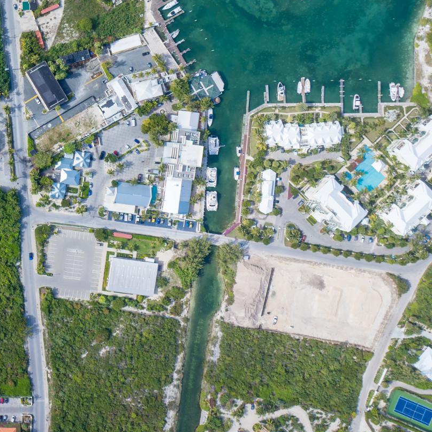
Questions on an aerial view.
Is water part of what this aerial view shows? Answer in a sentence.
Yes, there's water in this view.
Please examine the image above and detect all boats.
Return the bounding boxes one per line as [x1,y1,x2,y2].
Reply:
[296,82,301,94]
[167,6,182,17]
[207,136,221,155]
[233,166,238,180]
[162,0,179,10]
[206,167,217,187]
[276,82,283,101]
[388,82,397,101]
[207,108,212,127]
[235,145,242,157]
[397,84,403,97]
[304,78,310,93]
[351,93,360,111]
[205,191,217,210]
